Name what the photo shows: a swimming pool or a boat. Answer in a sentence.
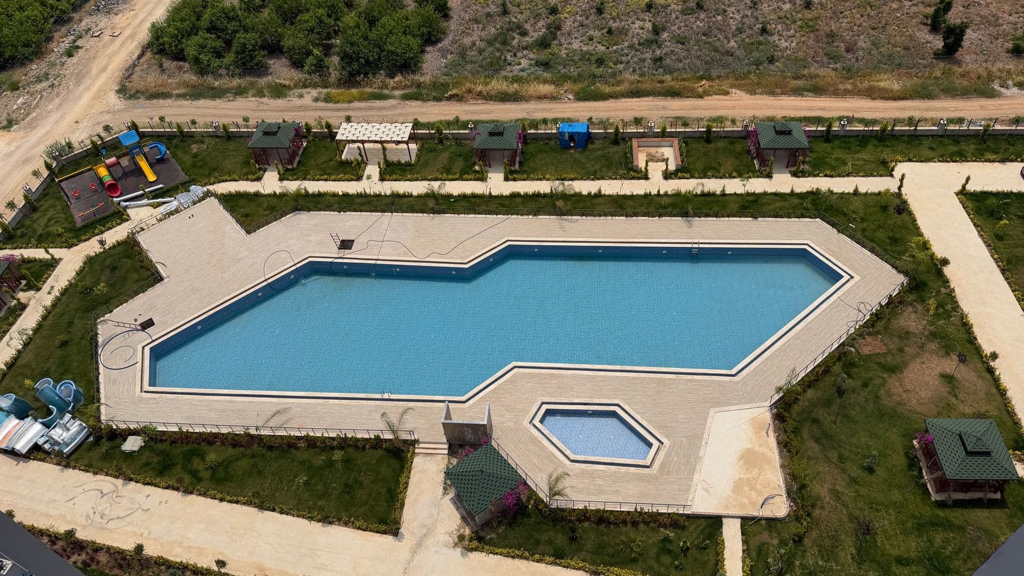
There is a swimming pool in the scene.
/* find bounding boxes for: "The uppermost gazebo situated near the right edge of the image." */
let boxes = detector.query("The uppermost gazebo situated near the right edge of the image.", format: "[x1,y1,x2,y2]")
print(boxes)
[914,418,1022,497]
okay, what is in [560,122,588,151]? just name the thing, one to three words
shed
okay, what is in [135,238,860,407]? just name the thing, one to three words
swimming pool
